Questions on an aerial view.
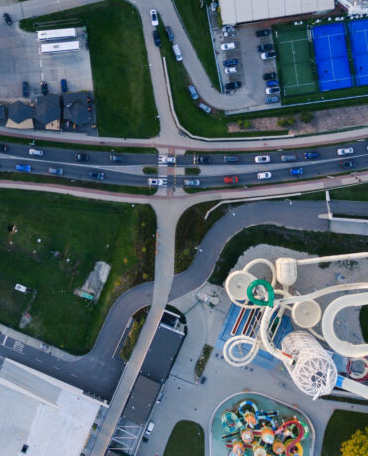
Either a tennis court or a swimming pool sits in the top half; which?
tennis court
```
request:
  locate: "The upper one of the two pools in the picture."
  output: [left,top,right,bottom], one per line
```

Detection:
[217,301,293,373]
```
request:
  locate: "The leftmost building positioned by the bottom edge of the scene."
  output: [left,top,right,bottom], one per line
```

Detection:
[0,352,109,456]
